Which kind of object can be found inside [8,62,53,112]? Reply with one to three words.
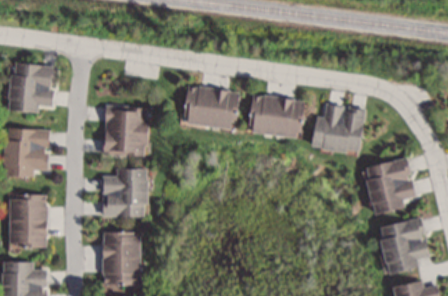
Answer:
house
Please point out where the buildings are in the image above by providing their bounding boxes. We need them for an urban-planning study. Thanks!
[103,232,141,292]
[363,158,415,215]
[5,128,50,178]
[380,219,430,274]
[250,94,305,141]
[8,194,47,256]
[312,102,367,158]
[8,62,53,112]
[180,84,241,132]
[105,107,149,156]
[103,168,150,218]
[2,262,47,296]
